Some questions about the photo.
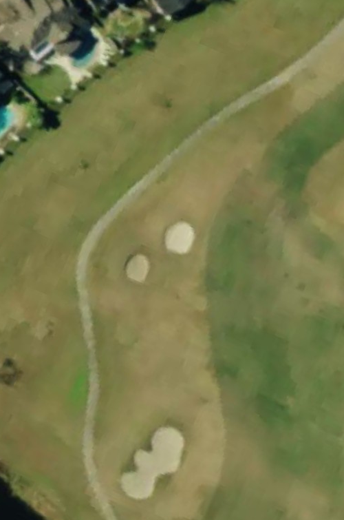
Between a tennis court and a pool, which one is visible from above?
pool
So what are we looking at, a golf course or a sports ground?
golf course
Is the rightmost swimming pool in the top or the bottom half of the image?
top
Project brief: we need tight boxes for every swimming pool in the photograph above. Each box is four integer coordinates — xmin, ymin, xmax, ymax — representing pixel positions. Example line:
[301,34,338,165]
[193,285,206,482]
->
[0,103,17,138]
[69,16,102,68]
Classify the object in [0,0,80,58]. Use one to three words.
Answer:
house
